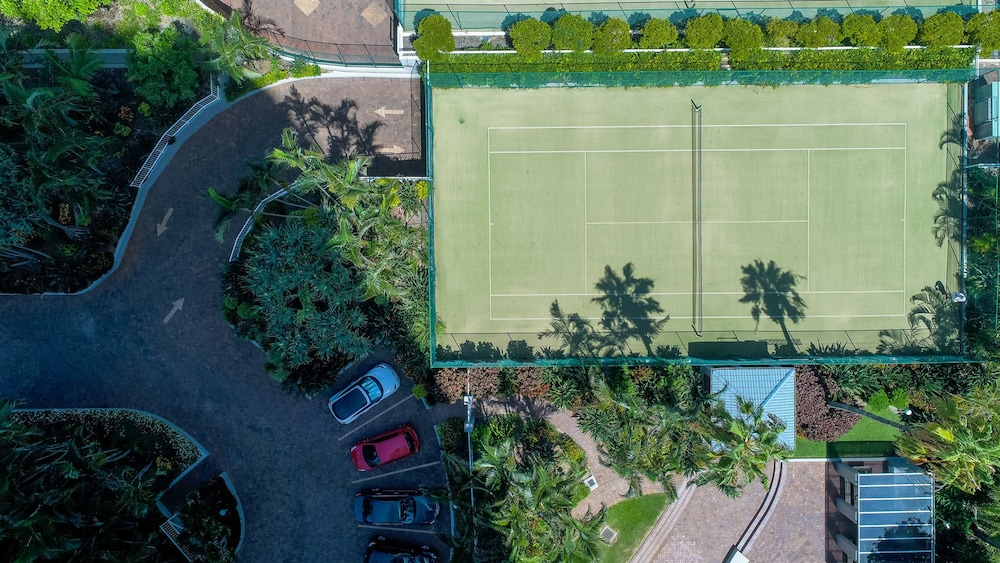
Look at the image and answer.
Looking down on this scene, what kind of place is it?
sports ground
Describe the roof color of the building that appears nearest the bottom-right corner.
blue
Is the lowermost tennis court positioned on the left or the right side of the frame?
right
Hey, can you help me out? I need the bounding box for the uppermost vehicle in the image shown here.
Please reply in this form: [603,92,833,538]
[324,360,404,425]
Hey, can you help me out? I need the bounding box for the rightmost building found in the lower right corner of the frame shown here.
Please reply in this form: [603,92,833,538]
[835,461,935,563]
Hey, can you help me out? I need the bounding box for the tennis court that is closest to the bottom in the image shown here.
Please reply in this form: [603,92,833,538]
[431,82,970,360]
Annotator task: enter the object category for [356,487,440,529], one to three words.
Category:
car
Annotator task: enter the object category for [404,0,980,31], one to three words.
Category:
tennis court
